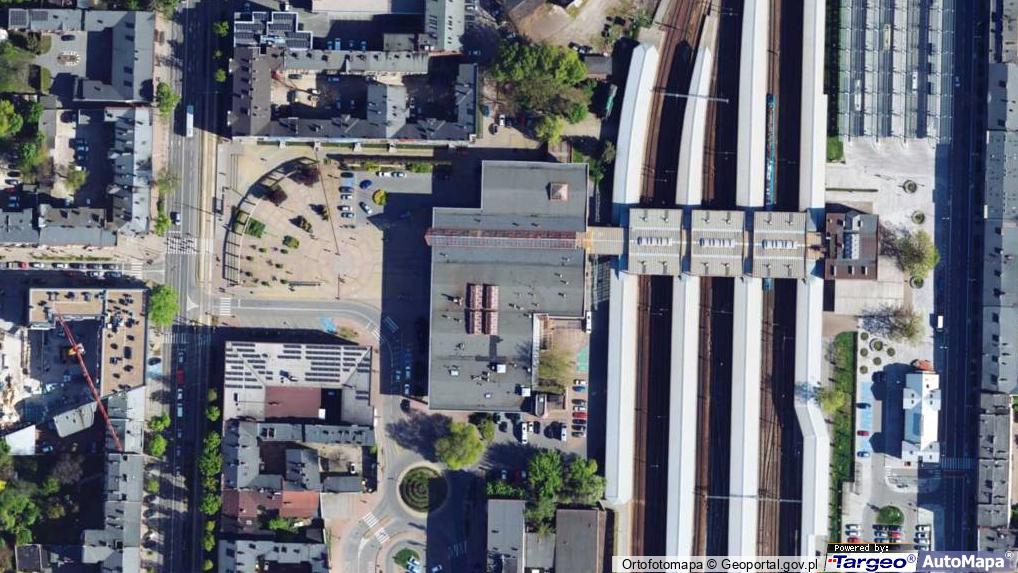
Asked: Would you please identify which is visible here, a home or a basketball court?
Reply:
home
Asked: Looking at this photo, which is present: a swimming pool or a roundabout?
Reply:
roundabout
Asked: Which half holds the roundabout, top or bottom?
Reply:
bottom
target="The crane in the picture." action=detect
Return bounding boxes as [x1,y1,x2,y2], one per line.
[53,309,124,451]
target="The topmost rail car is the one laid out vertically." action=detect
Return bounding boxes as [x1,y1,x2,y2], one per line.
[603,85,616,116]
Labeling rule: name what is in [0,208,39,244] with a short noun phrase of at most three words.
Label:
building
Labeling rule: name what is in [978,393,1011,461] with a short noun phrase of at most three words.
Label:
house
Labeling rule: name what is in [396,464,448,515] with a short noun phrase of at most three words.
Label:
roundabout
